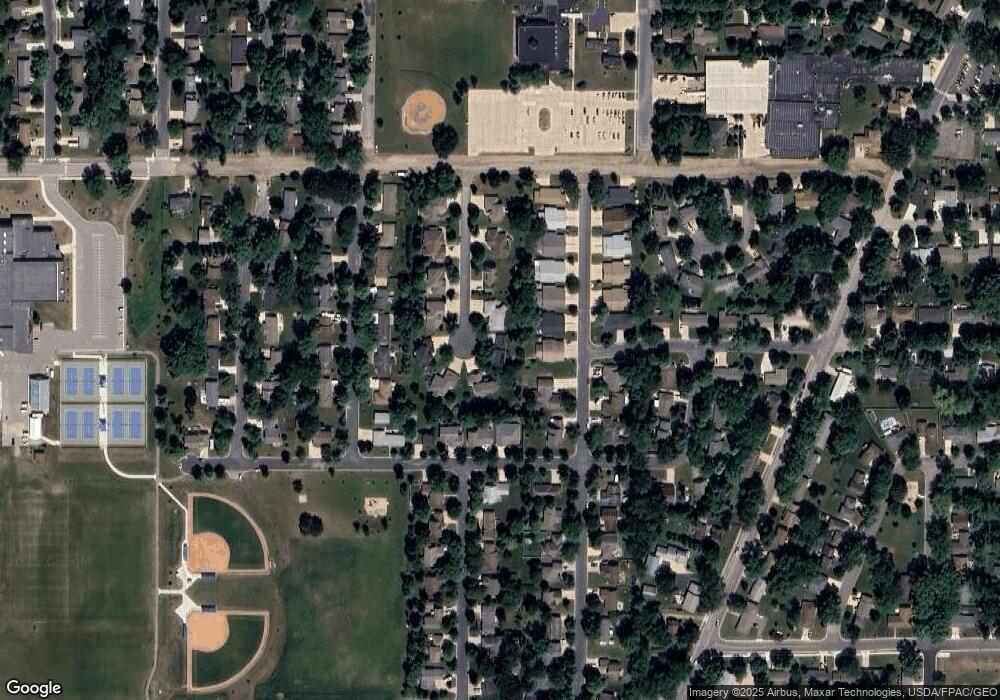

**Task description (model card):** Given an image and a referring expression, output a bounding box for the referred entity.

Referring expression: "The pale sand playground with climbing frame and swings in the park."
[364,497,389,534]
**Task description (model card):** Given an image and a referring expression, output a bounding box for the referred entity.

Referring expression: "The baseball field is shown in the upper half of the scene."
[402,90,445,134]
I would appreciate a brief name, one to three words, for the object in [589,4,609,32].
building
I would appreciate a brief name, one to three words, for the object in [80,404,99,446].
tennis court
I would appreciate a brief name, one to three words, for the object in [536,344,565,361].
house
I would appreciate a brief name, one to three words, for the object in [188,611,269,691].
baseball field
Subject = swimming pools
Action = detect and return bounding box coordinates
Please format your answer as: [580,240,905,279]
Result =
[881,417,898,432]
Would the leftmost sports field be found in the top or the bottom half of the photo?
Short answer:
bottom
